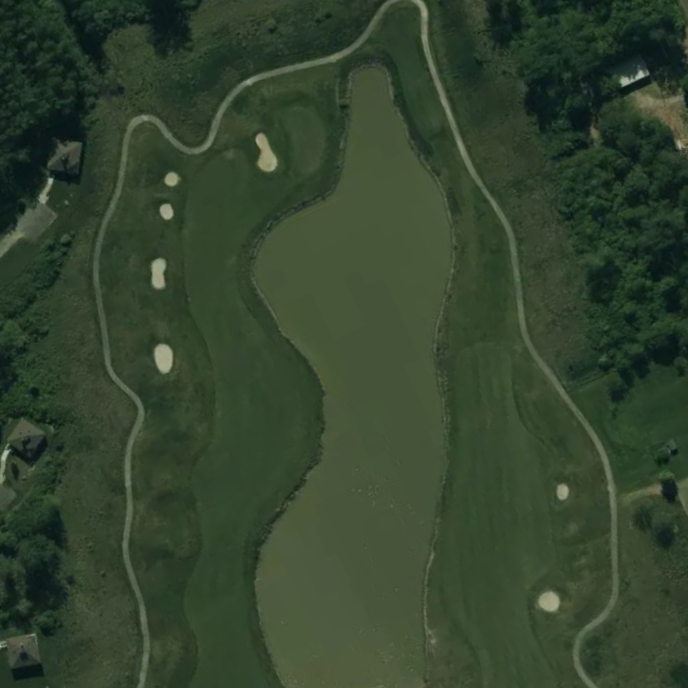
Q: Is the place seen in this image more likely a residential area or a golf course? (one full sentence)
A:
This looks like a golf course.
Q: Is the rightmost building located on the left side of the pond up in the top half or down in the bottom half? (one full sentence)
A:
The rightmost building located on the left side of the pond is in the top half of the image.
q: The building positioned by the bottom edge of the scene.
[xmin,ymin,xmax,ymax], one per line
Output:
[6,632,41,669]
